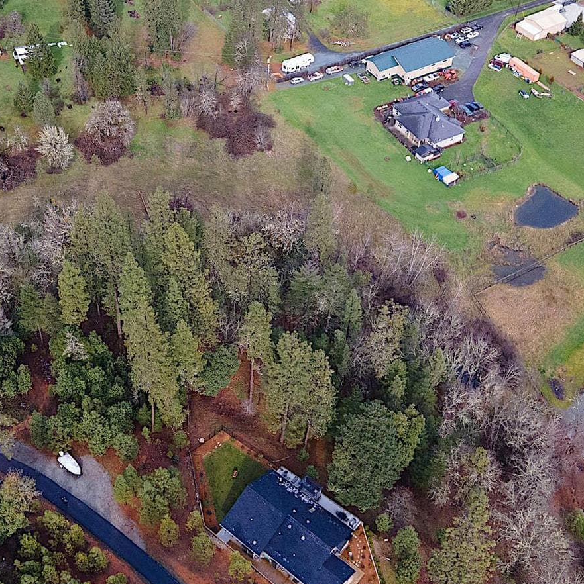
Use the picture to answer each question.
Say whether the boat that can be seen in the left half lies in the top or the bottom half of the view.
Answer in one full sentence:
The boat that can be seen in the left half sits in the bottom half of the picture.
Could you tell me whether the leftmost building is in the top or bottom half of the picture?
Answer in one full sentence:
Seen from above, the leftmost building lies in the top half of the view.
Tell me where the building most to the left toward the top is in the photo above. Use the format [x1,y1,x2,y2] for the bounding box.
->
[11,44,34,69]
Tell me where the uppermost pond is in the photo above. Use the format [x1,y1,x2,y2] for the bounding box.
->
[513,184,578,228]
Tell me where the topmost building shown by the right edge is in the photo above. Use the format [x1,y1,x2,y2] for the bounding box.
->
[513,7,568,45]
